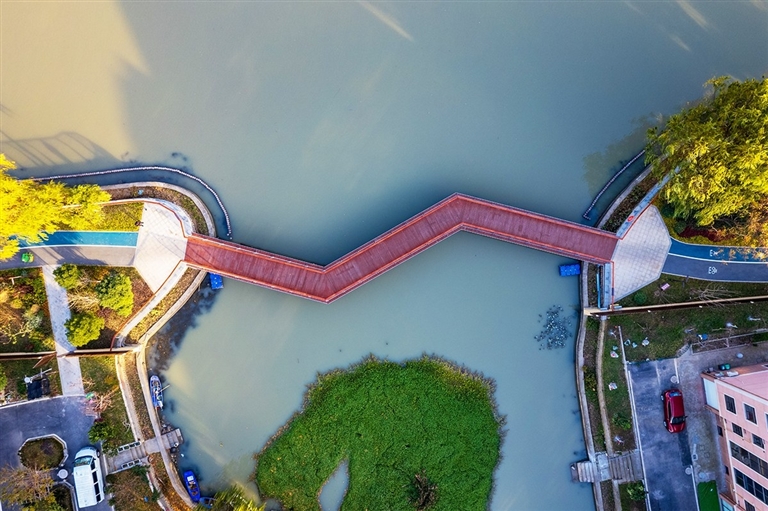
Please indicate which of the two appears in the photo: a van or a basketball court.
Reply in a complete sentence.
Of the two, only a van appears.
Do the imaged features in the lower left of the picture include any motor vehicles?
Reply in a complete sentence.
Yes, a motor vehicle shows up in the lower left of the picture.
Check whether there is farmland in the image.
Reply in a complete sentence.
No, there's no farmland in this view.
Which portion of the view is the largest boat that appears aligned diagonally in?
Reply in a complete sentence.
You can find the largest boat that appears aligned diagonally in the bottom left area of the picture.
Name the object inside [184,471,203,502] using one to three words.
boat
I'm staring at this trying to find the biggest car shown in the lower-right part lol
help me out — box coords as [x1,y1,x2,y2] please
[662,389,690,433]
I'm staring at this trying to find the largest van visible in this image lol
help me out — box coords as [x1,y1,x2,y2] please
[72,446,106,509]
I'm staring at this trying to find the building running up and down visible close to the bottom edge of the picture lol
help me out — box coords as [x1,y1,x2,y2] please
[698,362,768,511]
